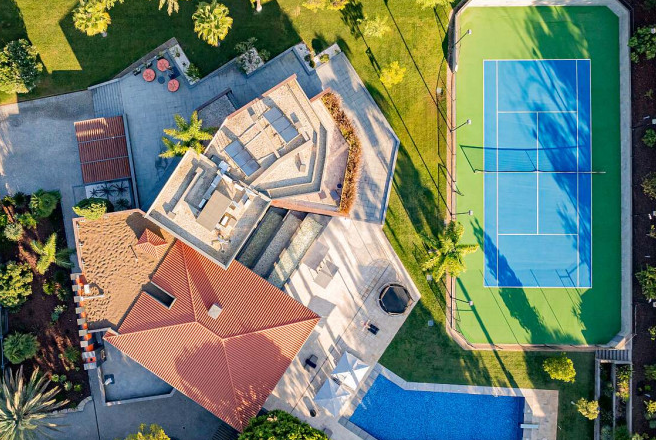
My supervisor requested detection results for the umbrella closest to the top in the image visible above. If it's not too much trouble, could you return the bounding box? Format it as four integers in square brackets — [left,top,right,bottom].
[331,352,369,390]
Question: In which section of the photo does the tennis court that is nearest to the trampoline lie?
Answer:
right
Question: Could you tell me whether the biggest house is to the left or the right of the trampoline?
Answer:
to the left of it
